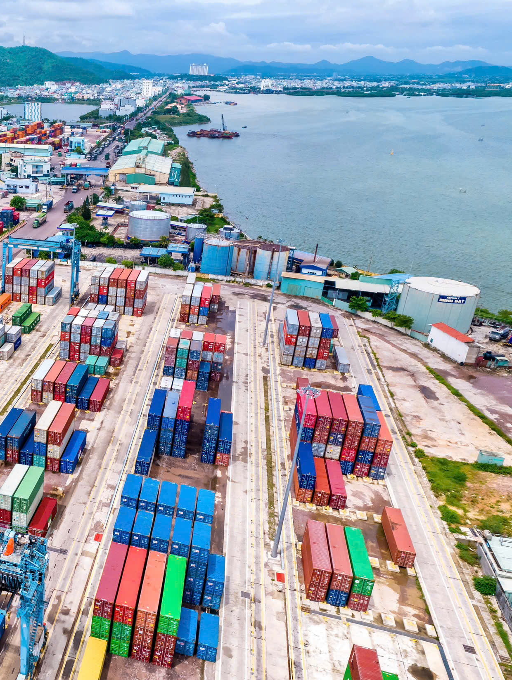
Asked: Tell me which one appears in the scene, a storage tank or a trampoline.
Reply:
storage tank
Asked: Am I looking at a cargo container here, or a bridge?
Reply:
cargo container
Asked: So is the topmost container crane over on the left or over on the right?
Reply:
left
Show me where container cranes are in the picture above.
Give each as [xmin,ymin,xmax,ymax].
[0,506,62,680]
[0,232,86,304]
